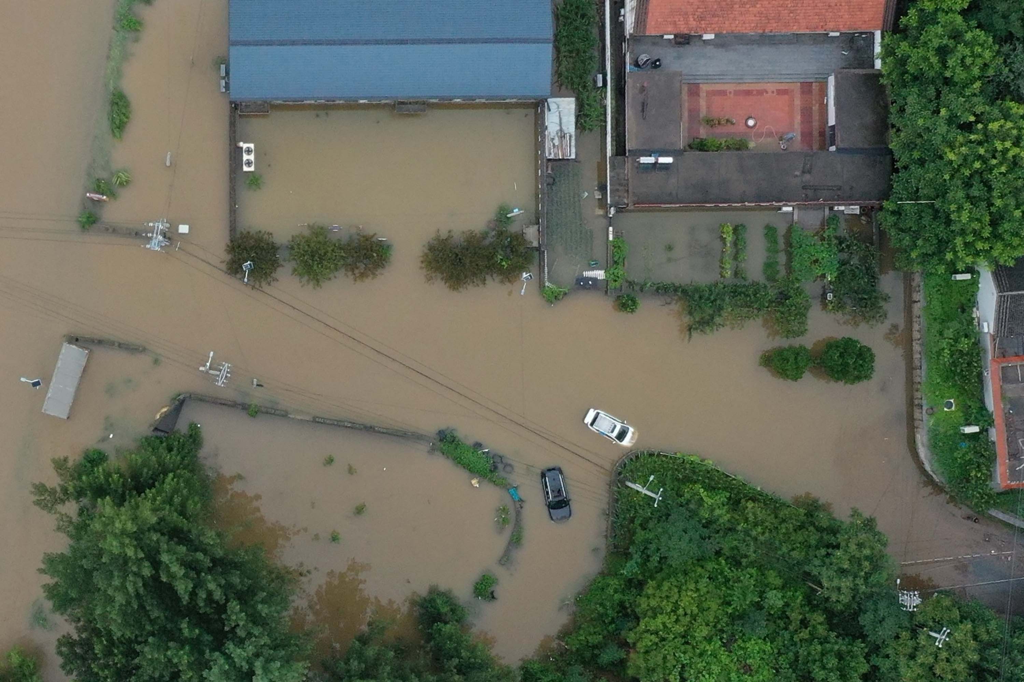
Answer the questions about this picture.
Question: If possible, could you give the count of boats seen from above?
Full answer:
Not a single boat can be seen.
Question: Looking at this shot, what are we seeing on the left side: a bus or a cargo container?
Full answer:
What appears on the left side is a cargo container.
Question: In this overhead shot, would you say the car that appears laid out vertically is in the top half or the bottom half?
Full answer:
It is in the bottom half that the car that appears laid out vertically appears.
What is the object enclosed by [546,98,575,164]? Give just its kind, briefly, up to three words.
shed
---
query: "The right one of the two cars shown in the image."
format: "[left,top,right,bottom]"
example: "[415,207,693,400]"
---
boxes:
[584,410,638,447]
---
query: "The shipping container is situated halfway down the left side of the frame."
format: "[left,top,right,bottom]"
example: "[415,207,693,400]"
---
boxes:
[41,342,92,420]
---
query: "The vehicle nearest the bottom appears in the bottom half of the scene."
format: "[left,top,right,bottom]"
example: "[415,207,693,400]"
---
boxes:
[542,465,572,521]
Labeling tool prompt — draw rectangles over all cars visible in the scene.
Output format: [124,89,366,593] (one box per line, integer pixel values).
[584,410,638,447]
[542,465,572,521]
